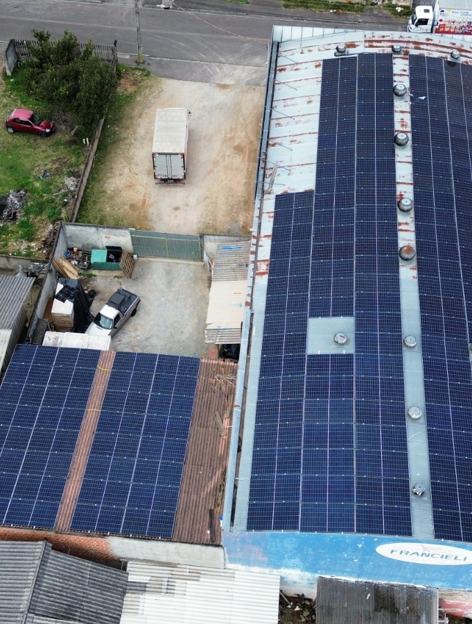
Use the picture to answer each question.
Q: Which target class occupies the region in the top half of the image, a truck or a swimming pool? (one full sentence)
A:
Visible in the top half of the image is a truck.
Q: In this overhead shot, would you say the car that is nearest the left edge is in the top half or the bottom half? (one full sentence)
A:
The car that is nearest the left edge sits in the top half of the picture.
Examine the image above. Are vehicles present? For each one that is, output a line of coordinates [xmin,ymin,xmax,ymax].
[86,285,145,346]
[153,107,193,185]
[407,0,472,35]
[2,107,55,138]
